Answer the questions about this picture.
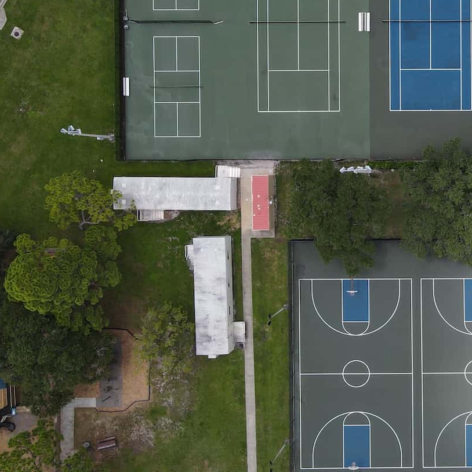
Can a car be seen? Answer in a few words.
No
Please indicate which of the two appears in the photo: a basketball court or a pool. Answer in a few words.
basketball court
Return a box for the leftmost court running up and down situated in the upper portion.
[154,36,200,137]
